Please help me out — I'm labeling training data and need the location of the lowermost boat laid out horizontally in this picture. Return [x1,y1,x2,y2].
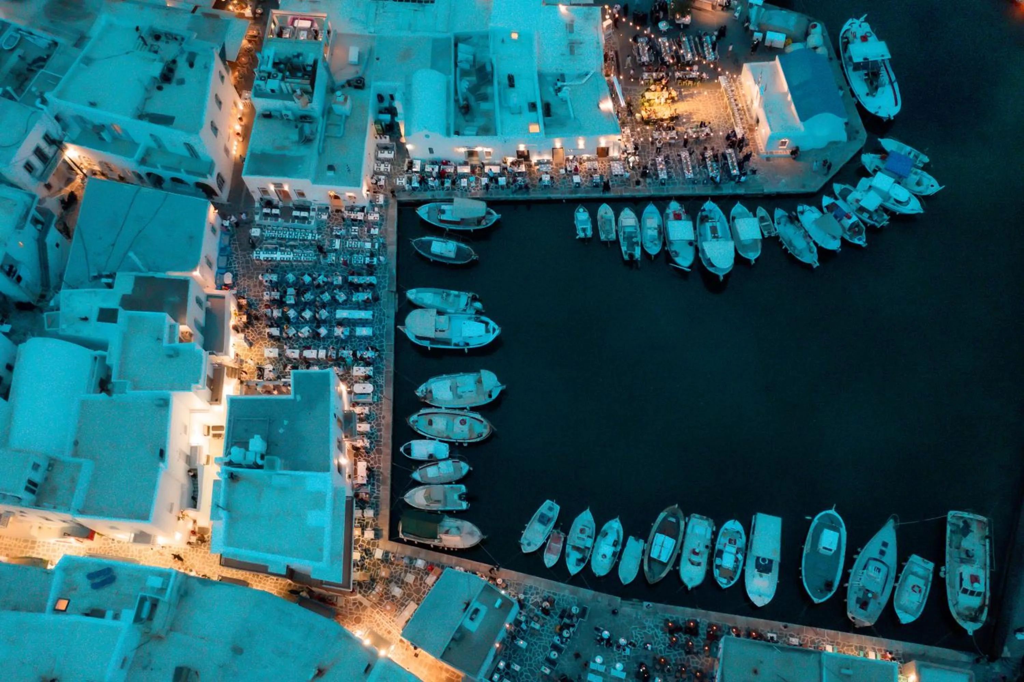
[397,513,520,572]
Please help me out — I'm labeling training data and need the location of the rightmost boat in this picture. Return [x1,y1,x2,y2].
[940,513,991,656]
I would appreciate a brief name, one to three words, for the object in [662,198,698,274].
boat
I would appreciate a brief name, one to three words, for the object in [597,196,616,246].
boat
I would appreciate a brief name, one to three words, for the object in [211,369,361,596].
house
